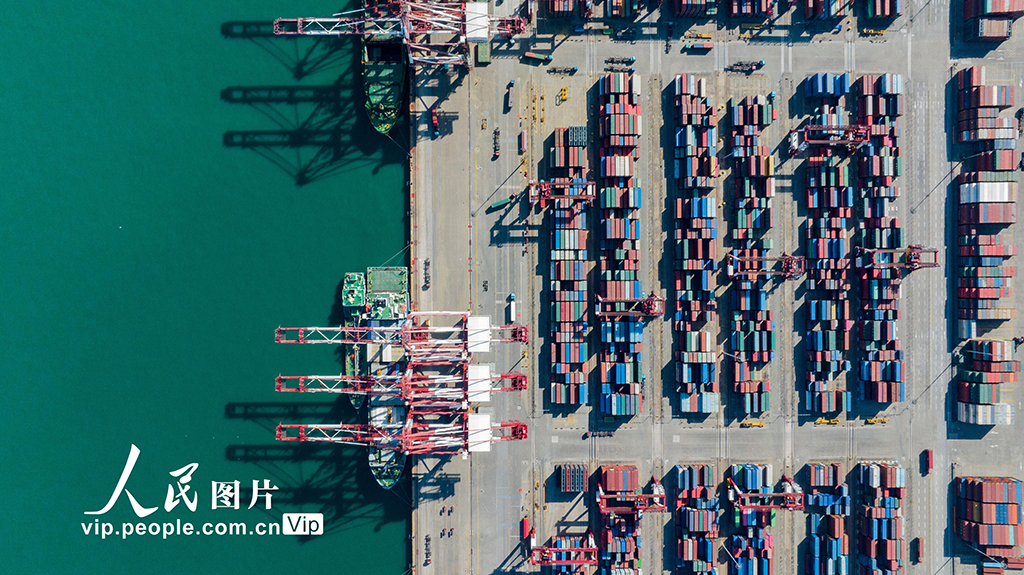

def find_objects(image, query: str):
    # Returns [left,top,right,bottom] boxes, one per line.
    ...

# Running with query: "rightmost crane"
[856,246,939,271]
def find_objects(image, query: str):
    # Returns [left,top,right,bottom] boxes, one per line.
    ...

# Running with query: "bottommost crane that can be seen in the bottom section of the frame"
[527,531,599,566]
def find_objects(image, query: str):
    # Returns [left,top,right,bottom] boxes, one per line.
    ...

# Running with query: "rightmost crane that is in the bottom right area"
[728,479,806,511]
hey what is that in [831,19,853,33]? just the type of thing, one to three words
work vehicle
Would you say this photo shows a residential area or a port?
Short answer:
port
